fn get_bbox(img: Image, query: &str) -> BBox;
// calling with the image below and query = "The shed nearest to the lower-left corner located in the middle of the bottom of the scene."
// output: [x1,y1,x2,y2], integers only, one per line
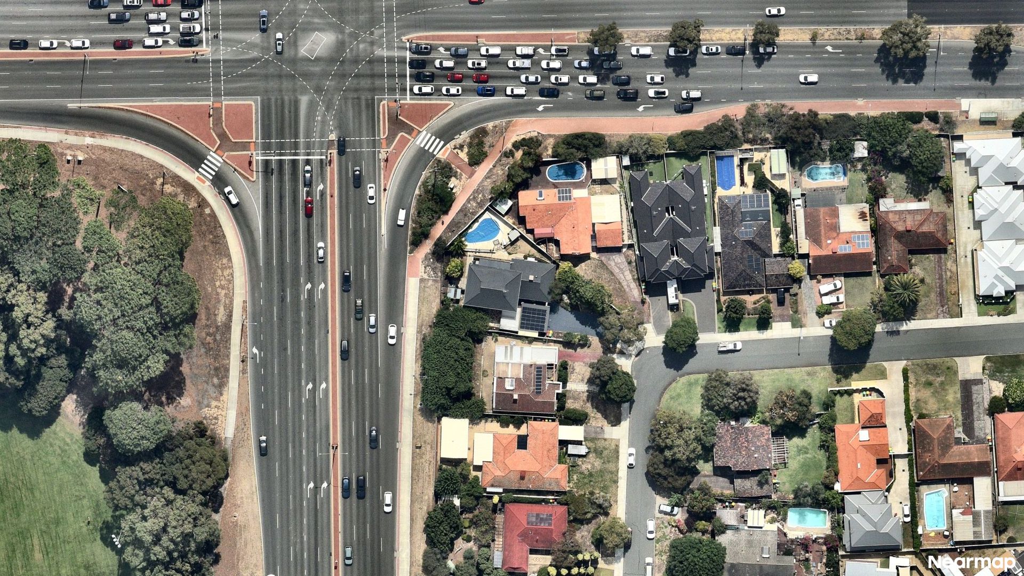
[440,417,468,458]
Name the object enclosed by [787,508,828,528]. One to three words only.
swimming pool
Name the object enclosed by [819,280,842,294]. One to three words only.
car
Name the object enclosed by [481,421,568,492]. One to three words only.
house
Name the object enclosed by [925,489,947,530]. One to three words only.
swimming pool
